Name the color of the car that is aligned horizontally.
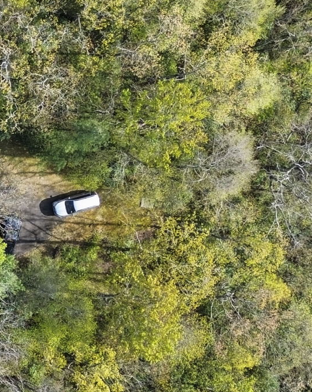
white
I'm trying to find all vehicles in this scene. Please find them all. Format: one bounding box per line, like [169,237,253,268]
[0,215,25,268]
[52,193,103,217]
